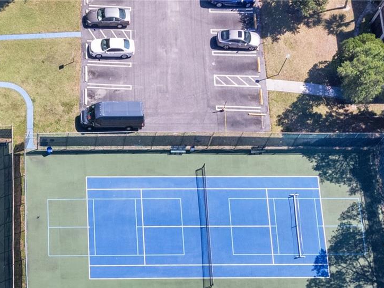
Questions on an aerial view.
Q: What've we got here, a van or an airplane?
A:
van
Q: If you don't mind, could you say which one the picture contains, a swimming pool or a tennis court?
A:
tennis court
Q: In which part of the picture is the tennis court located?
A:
bottom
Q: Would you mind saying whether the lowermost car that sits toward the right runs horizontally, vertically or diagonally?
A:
horizontally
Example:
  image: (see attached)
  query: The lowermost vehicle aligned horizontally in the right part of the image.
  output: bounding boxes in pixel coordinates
[216,28,262,50]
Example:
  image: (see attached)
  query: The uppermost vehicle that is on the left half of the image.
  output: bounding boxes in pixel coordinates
[85,5,130,28]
